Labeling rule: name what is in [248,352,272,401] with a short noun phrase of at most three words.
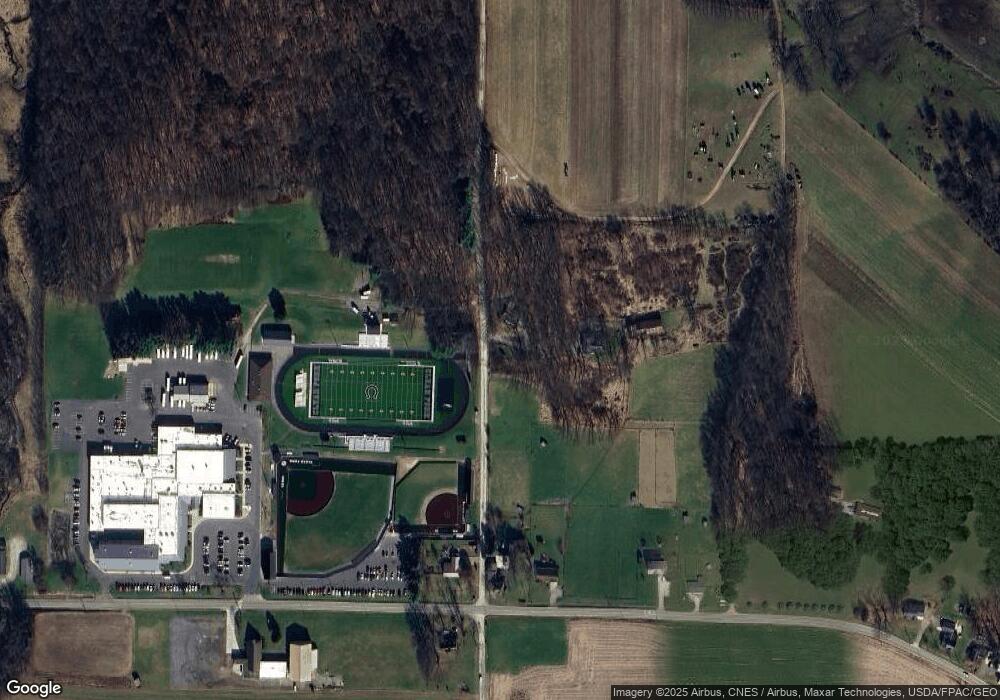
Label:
building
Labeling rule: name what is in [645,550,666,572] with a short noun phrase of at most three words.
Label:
house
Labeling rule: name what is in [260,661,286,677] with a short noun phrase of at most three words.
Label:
shed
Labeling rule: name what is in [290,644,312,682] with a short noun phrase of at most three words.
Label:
barn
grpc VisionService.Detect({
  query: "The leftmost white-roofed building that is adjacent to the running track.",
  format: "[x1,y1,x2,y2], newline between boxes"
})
[90,427,235,572]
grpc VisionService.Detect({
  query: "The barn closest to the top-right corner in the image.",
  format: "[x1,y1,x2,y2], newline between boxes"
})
[625,314,664,334]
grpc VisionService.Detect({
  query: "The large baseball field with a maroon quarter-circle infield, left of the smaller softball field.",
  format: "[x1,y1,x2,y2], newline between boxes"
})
[277,457,396,578]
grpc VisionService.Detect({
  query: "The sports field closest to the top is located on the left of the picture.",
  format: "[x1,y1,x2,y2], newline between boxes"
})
[282,356,460,427]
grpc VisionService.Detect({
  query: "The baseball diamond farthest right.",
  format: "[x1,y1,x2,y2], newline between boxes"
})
[397,460,465,533]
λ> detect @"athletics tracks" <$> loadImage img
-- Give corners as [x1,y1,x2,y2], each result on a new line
[269,342,470,437]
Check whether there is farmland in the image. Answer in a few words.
Yes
